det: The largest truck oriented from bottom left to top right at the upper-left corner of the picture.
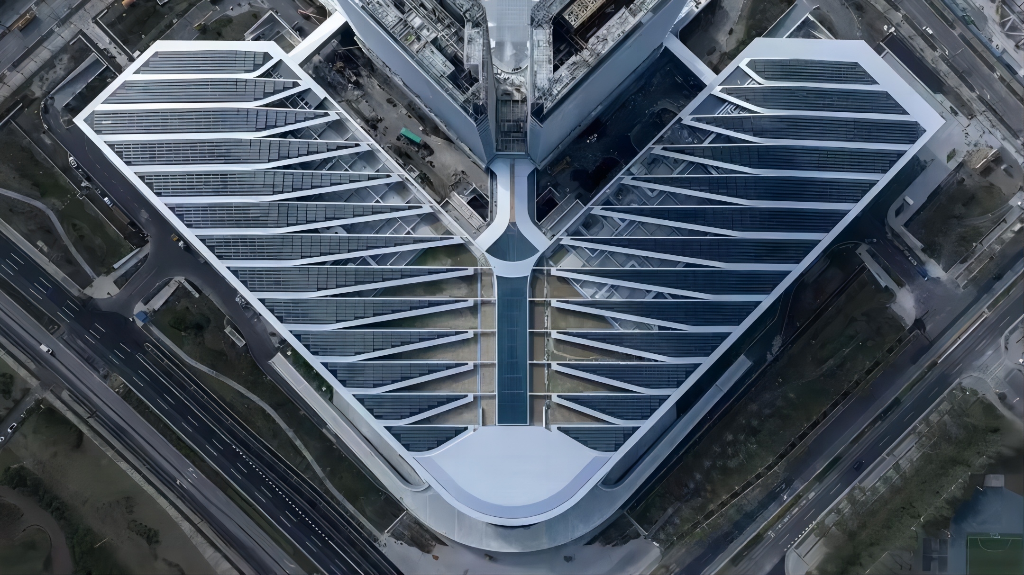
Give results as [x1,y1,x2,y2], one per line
[6,12,37,34]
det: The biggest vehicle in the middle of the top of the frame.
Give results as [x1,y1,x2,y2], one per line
[398,125,423,145]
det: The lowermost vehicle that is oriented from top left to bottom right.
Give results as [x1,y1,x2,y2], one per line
[38,343,54,355]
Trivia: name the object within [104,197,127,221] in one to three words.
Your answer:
truck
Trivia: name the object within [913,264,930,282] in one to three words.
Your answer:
vehicle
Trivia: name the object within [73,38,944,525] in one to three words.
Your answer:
building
